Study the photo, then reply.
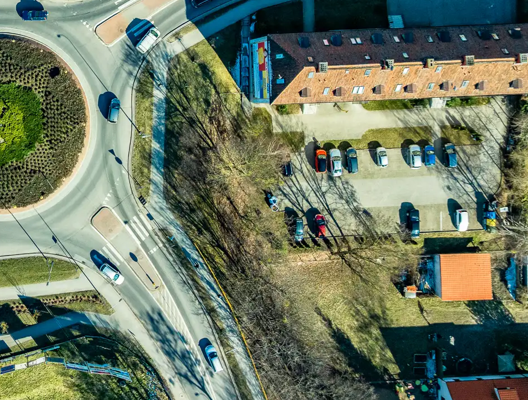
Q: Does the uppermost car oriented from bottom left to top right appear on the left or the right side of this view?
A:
left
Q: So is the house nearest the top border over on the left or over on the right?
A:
right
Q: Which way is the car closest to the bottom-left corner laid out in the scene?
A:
on a diagonal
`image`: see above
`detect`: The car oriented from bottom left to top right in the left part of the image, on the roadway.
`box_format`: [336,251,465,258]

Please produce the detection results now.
[134,27,162,55]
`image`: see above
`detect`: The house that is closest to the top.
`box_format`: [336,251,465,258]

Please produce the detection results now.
[251,13,528,113]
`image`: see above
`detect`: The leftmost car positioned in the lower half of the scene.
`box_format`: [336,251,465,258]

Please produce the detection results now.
[99,260,125,285]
